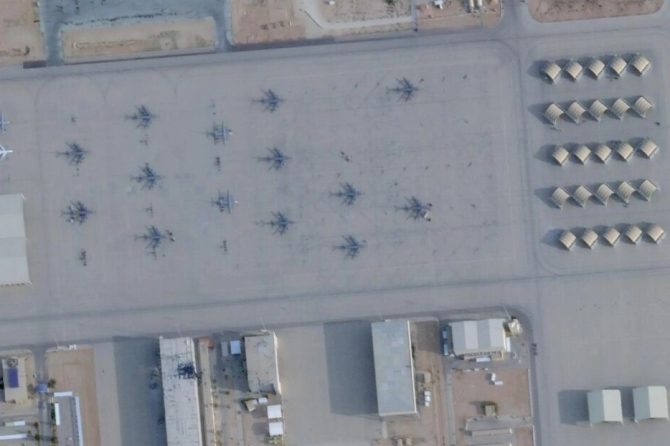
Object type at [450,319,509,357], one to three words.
building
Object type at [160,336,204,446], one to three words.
hangar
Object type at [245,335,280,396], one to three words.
hangar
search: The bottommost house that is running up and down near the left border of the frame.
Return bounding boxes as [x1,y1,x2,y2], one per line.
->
[3,358,28,405]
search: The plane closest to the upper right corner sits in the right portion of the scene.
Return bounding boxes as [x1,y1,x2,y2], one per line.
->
[396,79,419,101]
